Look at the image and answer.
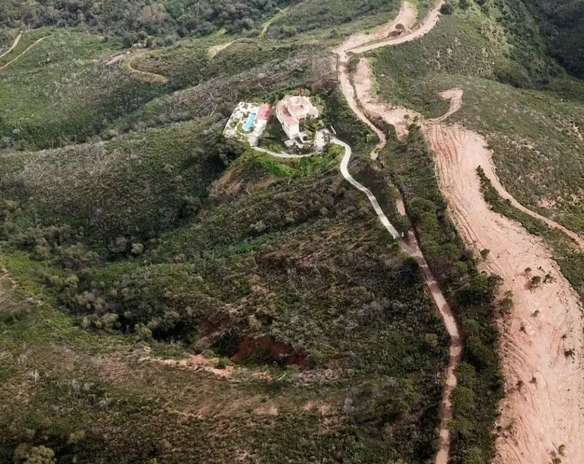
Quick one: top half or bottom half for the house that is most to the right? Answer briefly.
top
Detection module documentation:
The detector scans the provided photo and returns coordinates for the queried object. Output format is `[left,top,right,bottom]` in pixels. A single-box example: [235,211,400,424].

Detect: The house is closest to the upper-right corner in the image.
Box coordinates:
[277,96,319,133]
